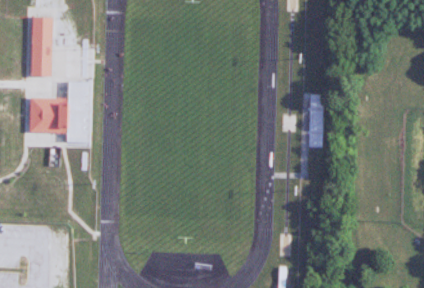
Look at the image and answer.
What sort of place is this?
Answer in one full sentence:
This looks like a sports ground.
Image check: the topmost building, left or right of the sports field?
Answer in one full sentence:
The topmost building appears to the left of the sports field in this view.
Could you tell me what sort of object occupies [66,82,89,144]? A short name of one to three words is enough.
building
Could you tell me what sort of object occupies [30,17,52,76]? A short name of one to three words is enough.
building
